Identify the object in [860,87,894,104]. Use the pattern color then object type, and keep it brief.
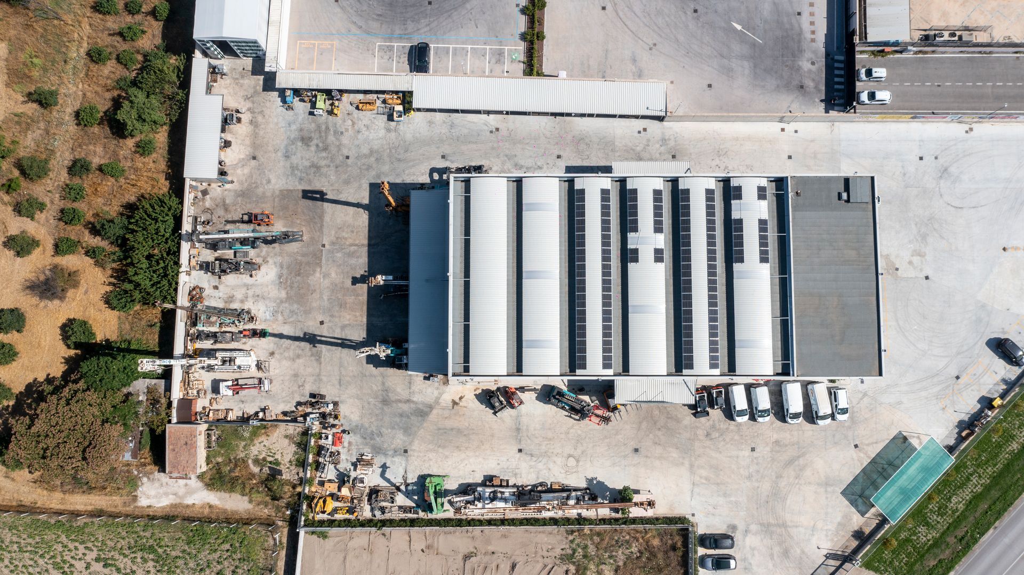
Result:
white car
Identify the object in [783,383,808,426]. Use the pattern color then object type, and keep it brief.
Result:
white vehicle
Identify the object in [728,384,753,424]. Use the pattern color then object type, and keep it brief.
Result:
white vehicle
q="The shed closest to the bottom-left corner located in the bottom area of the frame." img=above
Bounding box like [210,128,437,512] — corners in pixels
[122,424,147,461]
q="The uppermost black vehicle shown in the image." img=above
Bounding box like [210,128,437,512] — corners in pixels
[413,42,430,72]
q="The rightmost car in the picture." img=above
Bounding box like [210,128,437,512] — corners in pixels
[999,340,1024,372]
